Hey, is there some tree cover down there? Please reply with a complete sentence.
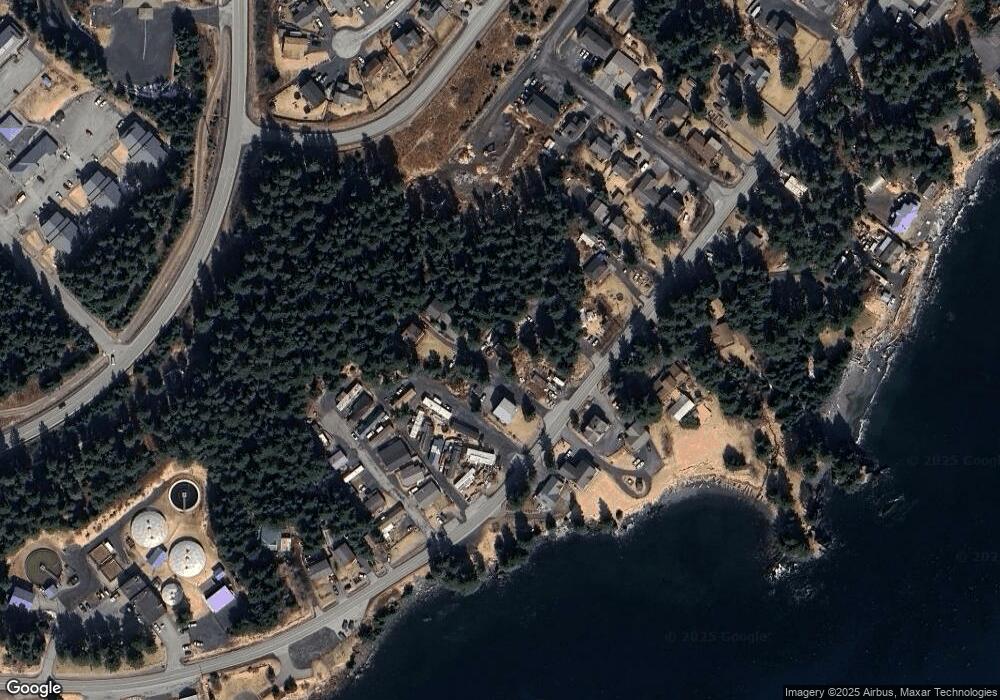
Yes, tree cover shows up in the scene.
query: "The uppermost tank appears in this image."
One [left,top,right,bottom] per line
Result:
[169,480,200,511]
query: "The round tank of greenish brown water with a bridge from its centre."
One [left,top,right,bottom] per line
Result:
[24,549,62,586]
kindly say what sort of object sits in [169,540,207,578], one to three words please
storage tank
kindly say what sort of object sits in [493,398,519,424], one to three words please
barn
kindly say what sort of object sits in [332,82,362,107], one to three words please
house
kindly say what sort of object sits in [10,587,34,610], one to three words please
building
